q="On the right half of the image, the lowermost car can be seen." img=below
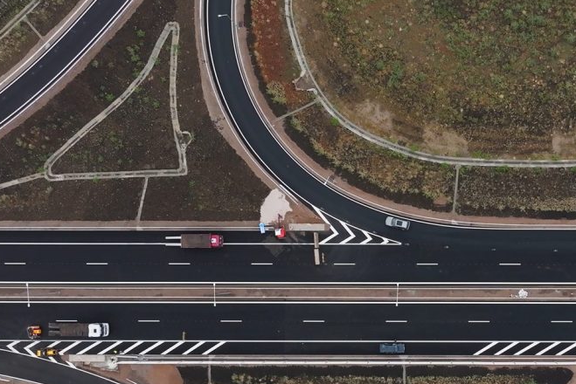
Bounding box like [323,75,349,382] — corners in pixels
[380,341,405,353]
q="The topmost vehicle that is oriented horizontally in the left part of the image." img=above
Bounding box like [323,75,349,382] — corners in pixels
[165,232,224,248]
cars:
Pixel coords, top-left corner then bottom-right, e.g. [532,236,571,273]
[380,341,405,353]
[385,216,411,229]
